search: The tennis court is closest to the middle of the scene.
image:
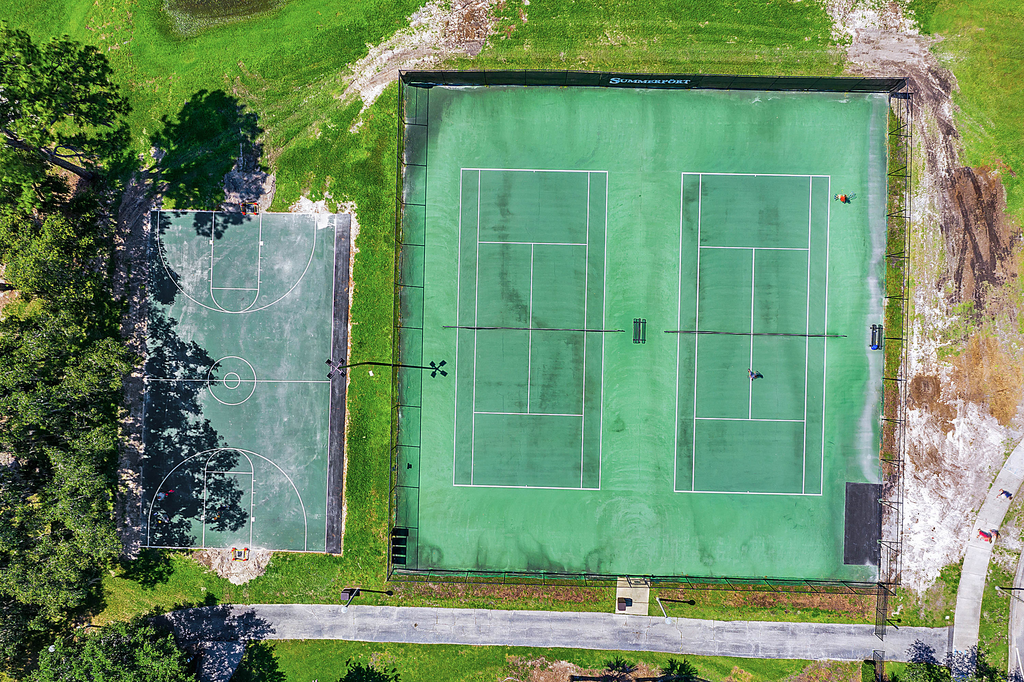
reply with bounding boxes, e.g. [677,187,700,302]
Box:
[453,168,608,490]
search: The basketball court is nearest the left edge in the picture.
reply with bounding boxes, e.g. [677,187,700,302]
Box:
[140,209,350,554]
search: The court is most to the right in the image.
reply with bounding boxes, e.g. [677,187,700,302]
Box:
[674,172,830,496]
